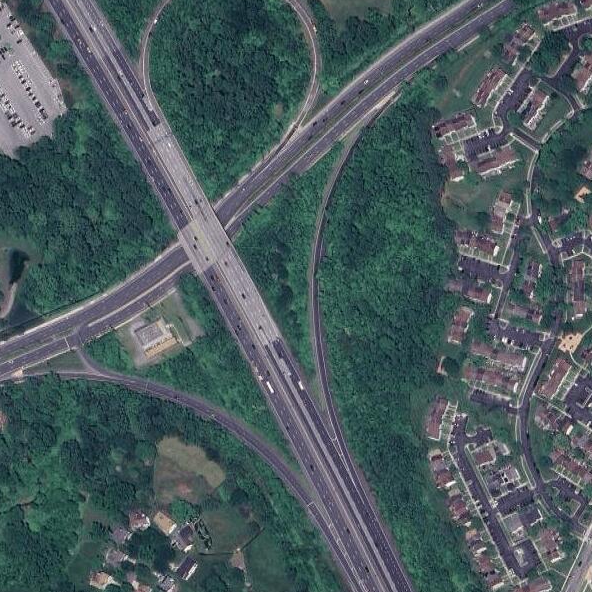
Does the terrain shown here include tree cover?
Yes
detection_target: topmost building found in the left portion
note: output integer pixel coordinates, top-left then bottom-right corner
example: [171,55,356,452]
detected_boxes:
[135,317,178,358]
